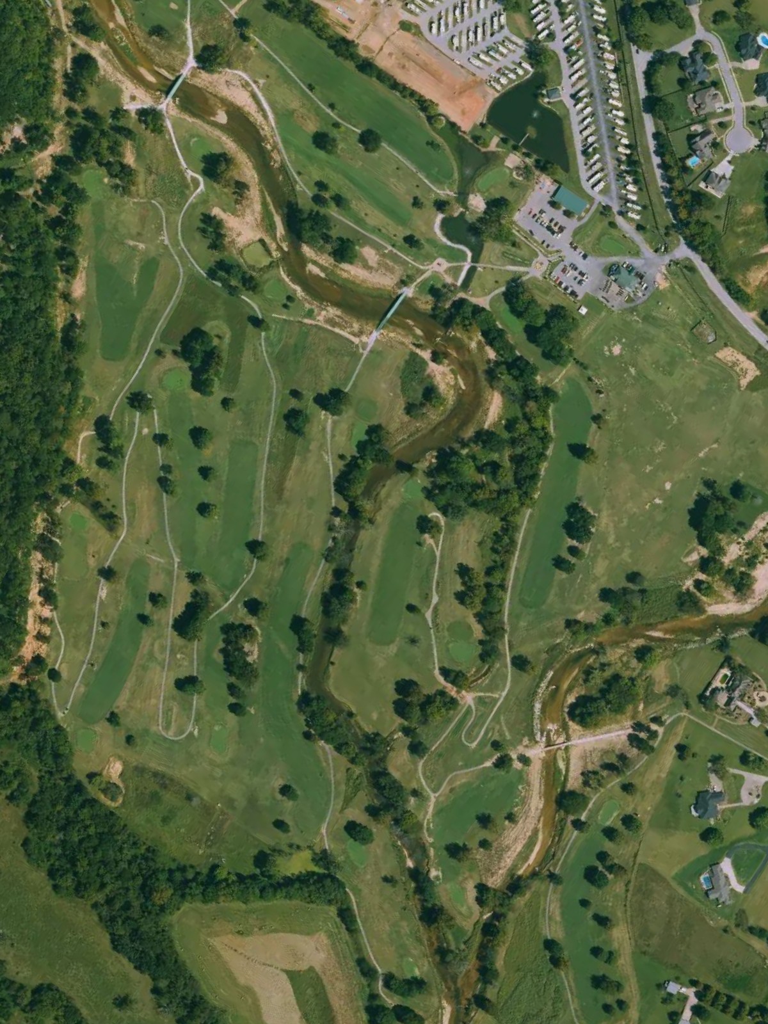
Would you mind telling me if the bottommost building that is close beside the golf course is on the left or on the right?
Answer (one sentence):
You can find the bottommost building that is close beside the golf course on the right side of the picture.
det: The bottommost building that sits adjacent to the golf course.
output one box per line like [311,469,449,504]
[617,255,641,291]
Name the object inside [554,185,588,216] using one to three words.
building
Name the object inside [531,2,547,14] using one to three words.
vehicle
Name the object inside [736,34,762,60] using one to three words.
house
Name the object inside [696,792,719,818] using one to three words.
house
